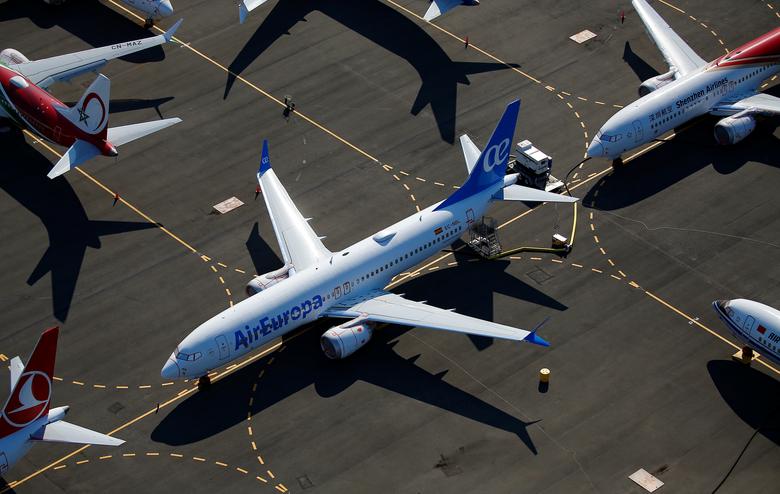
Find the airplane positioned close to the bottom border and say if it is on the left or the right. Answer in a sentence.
The airplane positioned close to the bottom border sits on the left side.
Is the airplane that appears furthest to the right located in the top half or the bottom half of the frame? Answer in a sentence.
It is in the bottom half that the airplane that appears furthest to the right appears.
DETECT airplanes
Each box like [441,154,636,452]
[0,328,126,473]
[711,300,780,368]
[0,18,185,179]
[585,0,780,168]
[117,0,174,28]
[161,99,580,385]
